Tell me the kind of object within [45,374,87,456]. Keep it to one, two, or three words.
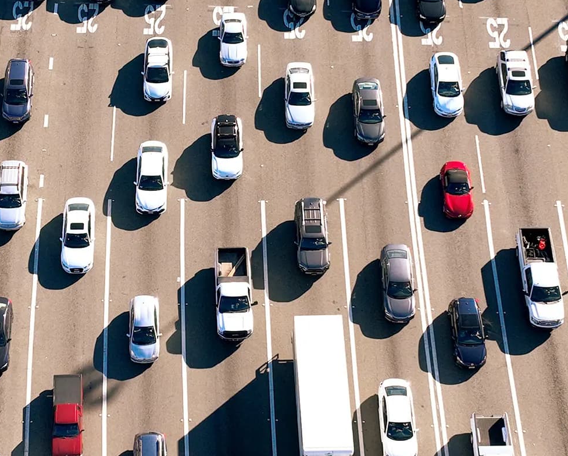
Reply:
truck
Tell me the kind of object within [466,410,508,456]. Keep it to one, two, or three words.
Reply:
truck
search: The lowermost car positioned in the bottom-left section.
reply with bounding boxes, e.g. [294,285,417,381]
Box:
[133,429,167,456]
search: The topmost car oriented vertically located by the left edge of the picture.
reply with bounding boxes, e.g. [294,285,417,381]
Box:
[0,58,35,125]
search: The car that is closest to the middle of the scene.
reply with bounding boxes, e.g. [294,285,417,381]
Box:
[294,196,335,277]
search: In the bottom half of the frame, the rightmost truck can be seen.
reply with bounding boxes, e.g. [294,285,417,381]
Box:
[516,227,568,329]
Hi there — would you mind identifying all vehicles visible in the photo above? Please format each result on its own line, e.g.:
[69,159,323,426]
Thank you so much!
[294,196,335,277]
[516,227,568,329]
[0,295,13,374]
[379,241,420,325]
[0,58,35,125]
[283,60,317,131]
[352,0,380,20]
[377,375,421,456]
[0,159,28,232]
[125,293,164,365]
[133,429,167,456]
[208,113,246,181]
[218,12,251,69]
[141,35,176,104]
[213,247,257,341]
[134,139,170,216]
[428,50,467,119]
[415,0,446,25]
[351,75,388,147]
[288,315,354,456]
[466,410,508,456]
[289,0,316,19]
[45,374,87,456]
[496,50,539,117]
[438,159,476,220]
[447,295,491,372]
[59,195,96,276]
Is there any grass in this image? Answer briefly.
No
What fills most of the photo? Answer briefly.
paved ground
